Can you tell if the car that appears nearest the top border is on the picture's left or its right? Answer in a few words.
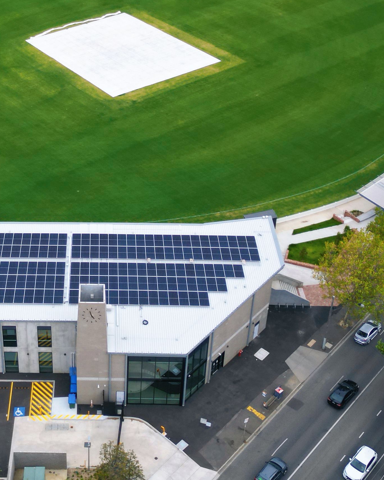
right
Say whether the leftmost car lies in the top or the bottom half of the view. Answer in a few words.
bottom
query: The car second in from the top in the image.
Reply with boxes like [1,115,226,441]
[326,378,360,412]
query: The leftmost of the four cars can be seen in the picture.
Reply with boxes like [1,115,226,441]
[251,451,290,480]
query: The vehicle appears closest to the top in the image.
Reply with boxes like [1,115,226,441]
[351,318,382,347]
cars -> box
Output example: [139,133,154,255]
[326,378,360,412]
[251,451,290,480]
[341,441,380,480]
[351,318,382,347]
